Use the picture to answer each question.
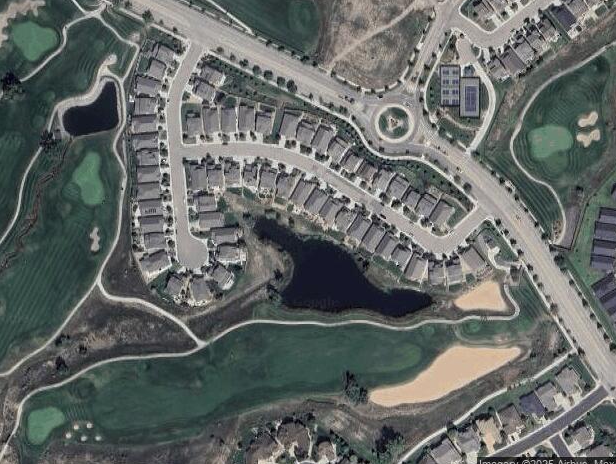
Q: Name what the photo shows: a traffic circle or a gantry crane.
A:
traffic circle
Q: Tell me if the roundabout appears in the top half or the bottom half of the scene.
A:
top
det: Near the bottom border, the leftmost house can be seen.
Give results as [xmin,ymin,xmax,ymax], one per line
[247,434,278,464]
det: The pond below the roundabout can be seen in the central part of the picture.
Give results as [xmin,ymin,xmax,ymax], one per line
[254,218,432,316]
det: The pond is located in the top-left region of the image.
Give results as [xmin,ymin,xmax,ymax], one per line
[62,79,120,135]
